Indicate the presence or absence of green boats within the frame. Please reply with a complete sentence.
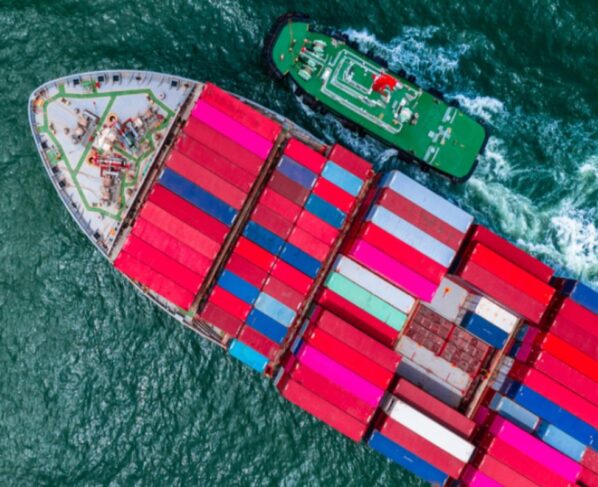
Yes, a green boat can be made out from above.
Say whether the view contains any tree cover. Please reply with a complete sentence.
No, no tree cover is visible.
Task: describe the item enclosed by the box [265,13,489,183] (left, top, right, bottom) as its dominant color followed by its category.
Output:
green boat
